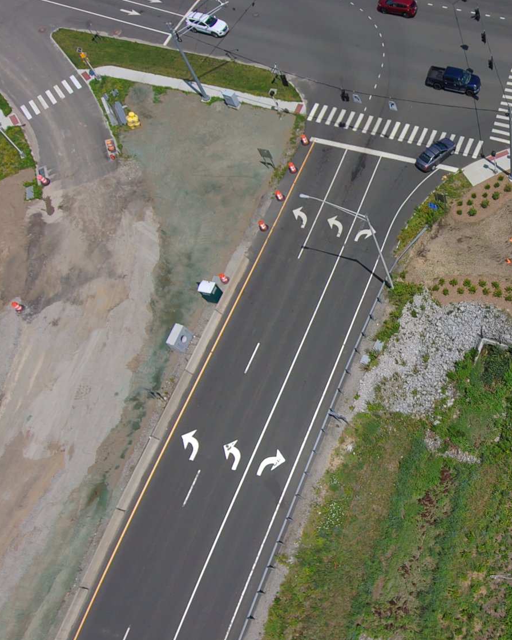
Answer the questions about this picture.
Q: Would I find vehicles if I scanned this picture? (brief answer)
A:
Yes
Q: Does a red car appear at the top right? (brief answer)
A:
Yes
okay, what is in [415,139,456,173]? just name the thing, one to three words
car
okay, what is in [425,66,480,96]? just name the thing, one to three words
truck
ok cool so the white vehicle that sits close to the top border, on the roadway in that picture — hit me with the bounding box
[185,12,228,39]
